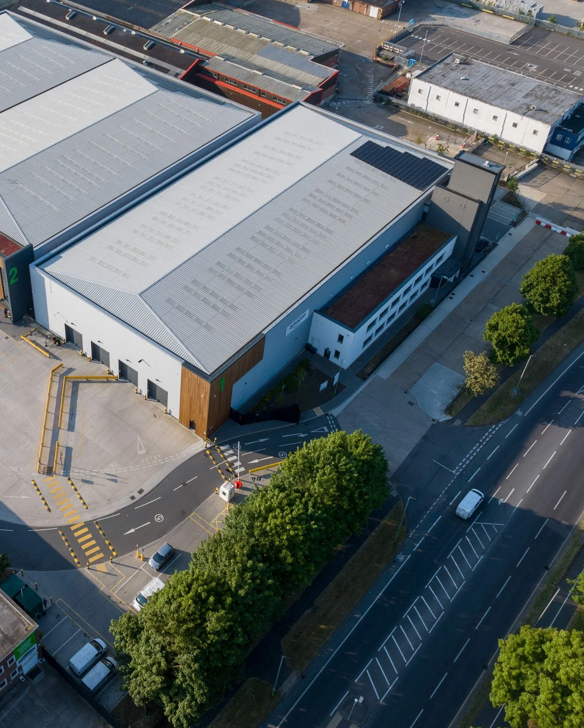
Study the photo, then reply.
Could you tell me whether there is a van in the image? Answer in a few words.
Yes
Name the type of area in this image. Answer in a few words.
industrial area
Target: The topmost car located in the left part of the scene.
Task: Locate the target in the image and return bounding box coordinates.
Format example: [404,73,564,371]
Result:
[146,542,176,575]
